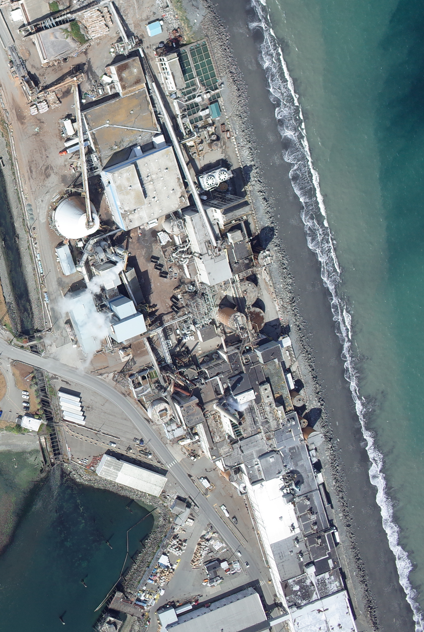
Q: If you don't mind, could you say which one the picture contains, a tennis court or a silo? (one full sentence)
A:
Of the two, only a silo appears.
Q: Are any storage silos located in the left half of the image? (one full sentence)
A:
Yes, I can see a storage silo in the left half of the image.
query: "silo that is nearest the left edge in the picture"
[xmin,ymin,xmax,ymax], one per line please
[53,194,100,241]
